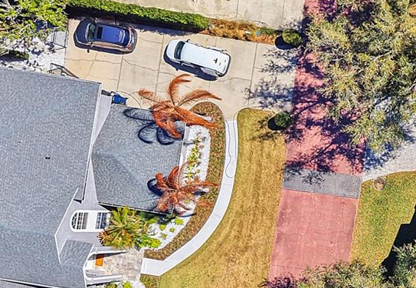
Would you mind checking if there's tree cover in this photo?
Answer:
Yes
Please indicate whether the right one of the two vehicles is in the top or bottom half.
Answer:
top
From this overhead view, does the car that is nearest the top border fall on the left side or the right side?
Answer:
left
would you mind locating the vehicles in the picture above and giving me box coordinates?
[74,18,140,54]
[163,36,235,80]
